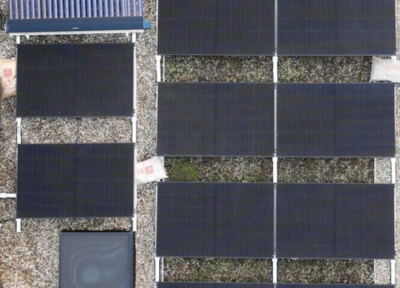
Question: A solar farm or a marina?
solar farm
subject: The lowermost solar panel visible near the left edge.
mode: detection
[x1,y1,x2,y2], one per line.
[17,143,134,217]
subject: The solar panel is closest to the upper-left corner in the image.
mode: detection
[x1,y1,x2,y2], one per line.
[16,43,133,116]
